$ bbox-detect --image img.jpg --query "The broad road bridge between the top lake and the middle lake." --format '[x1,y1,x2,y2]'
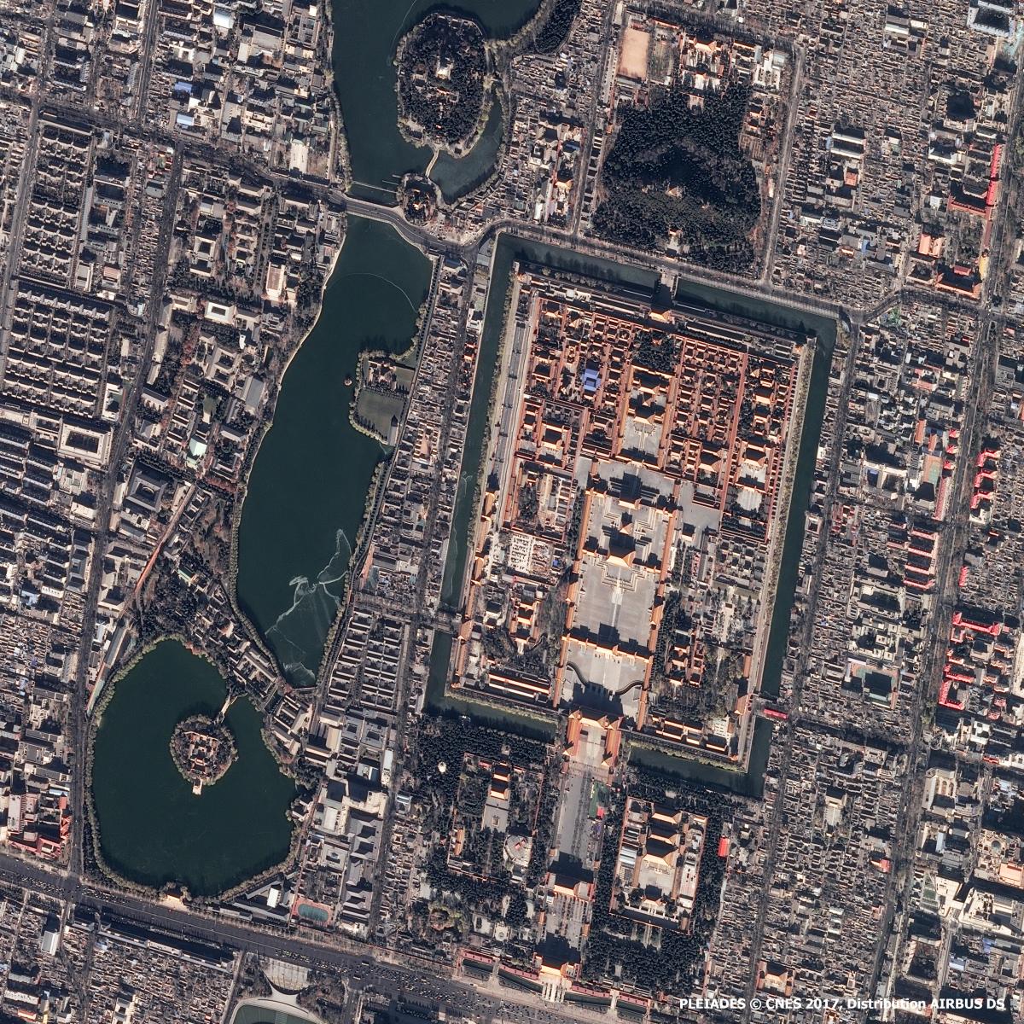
[343,196,398,222]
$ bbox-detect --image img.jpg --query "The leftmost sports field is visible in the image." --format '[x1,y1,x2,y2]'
[617,28,649,79]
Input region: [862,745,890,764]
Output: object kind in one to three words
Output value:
building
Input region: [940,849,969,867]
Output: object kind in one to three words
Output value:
building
